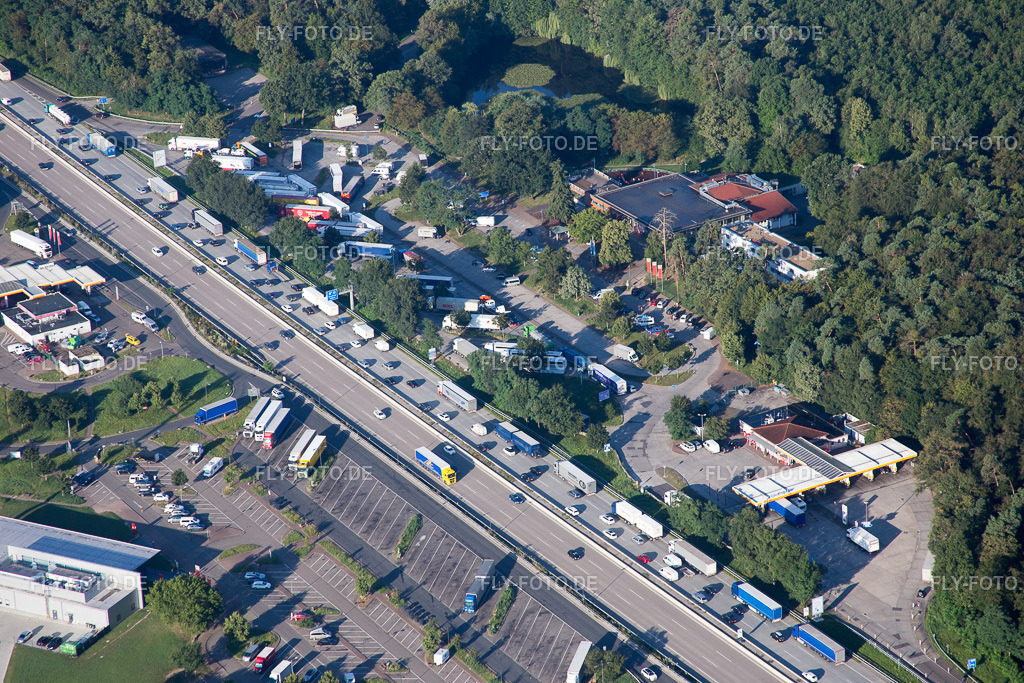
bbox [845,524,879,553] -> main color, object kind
white truck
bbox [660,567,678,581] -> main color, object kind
white vehicle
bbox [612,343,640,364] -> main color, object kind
white truck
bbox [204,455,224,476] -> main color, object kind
white camper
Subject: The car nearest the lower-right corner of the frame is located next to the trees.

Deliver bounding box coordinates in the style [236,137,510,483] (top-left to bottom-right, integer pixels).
[915,587,927,599]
